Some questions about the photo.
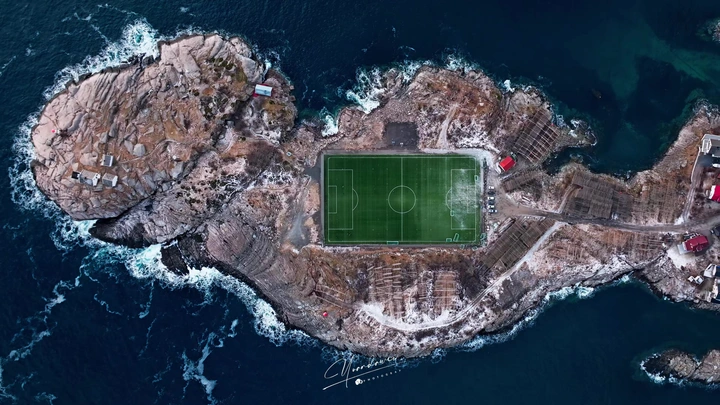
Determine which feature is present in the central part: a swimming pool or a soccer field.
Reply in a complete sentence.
There is a soccer field in the central part.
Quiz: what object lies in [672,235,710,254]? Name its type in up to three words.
house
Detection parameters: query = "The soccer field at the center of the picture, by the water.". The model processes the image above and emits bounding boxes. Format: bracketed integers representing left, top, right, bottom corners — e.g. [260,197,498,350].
[323,153,482,245]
